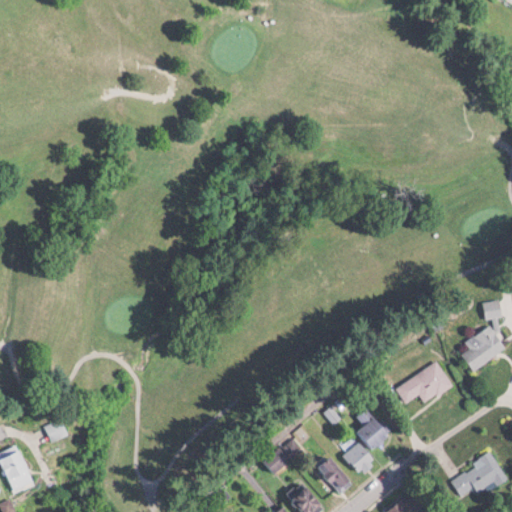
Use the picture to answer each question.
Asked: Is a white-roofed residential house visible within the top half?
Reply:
No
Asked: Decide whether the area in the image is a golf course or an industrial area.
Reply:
golf course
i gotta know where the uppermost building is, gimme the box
[484,302,502,331]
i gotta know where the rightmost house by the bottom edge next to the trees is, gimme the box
[452,454,504,499]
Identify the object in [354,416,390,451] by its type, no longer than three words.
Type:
house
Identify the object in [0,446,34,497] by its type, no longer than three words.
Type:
house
